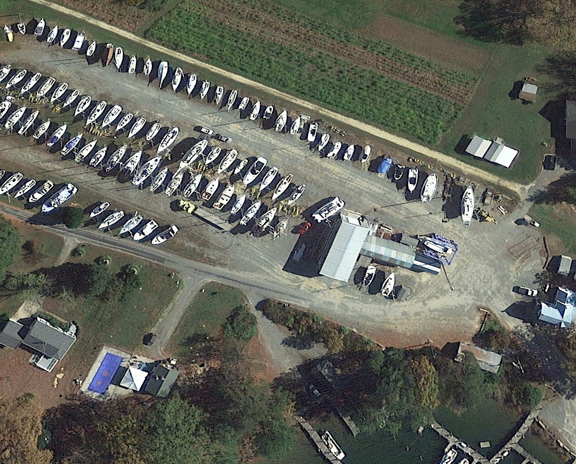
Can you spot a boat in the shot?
Yes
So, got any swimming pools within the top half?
No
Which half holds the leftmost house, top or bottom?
bottom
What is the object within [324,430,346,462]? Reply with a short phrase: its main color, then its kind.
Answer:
white boat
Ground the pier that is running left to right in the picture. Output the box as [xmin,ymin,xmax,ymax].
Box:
[431,409,546,464]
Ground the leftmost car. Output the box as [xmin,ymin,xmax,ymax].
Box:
[145,332,157,345]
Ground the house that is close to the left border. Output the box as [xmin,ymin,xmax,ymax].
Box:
[0,317,76,374]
